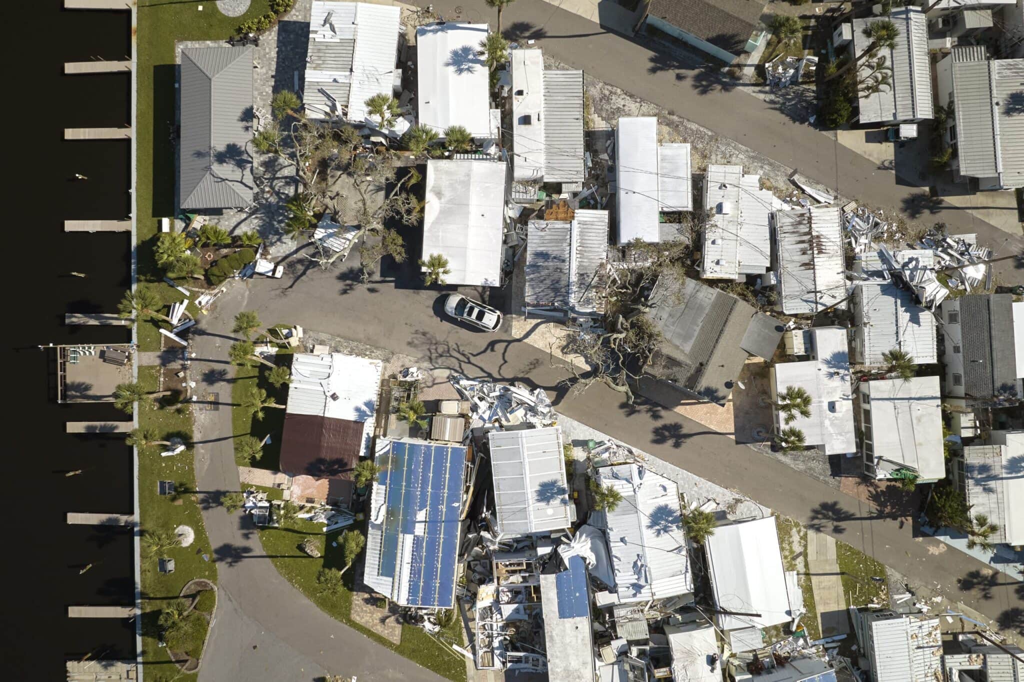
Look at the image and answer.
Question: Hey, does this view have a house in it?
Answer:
Yes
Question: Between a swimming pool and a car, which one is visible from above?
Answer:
car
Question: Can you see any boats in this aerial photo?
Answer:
No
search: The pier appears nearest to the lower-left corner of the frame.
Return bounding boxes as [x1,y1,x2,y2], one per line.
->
[68,604,135,623]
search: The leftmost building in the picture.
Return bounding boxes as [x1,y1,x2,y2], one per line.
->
[180,46,254,210]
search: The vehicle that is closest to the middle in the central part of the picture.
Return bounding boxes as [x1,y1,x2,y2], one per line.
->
[440,292,507,335]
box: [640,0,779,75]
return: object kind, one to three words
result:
house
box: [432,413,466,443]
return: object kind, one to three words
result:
shed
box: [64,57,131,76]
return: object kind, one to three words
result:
pier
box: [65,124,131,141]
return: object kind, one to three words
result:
pier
